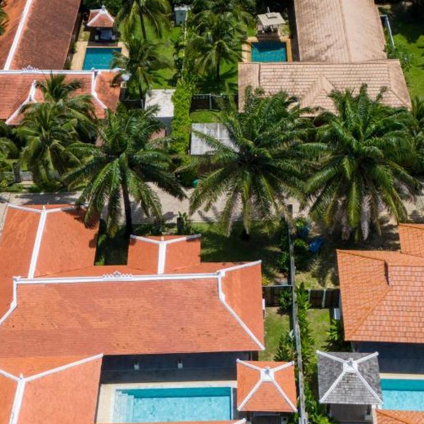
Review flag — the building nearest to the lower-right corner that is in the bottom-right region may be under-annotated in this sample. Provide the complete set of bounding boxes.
[314,348,385,423]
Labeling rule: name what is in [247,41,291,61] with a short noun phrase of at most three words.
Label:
swimming pool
